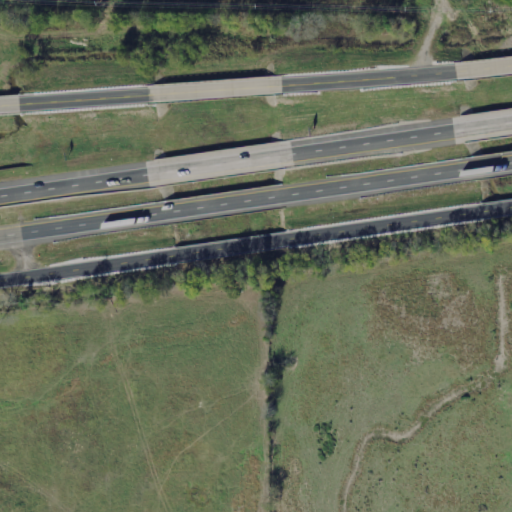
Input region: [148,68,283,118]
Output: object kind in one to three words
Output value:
bridge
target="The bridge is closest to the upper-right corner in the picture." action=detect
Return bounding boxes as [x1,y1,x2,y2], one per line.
[454,52,512,90]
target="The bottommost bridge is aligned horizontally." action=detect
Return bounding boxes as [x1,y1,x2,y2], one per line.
[172,230,288,265]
